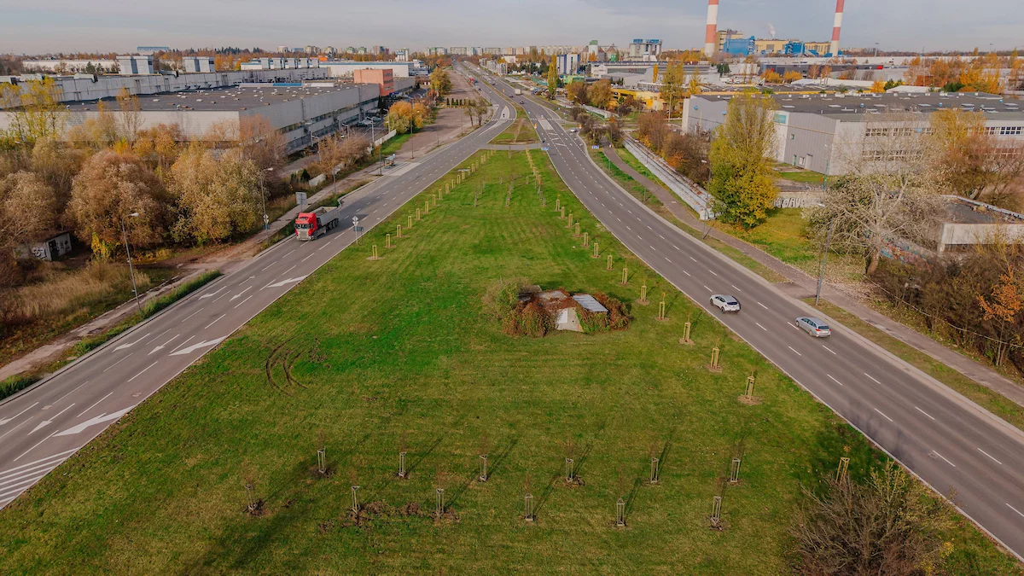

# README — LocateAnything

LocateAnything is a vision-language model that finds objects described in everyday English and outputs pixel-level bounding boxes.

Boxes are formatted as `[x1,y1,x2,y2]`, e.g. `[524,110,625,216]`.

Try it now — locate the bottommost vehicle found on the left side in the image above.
[294,206,337,238]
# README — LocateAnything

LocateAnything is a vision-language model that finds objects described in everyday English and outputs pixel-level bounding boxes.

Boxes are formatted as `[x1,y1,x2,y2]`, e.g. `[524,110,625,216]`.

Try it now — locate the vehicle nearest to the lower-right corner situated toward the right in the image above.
[795,315,834,336]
